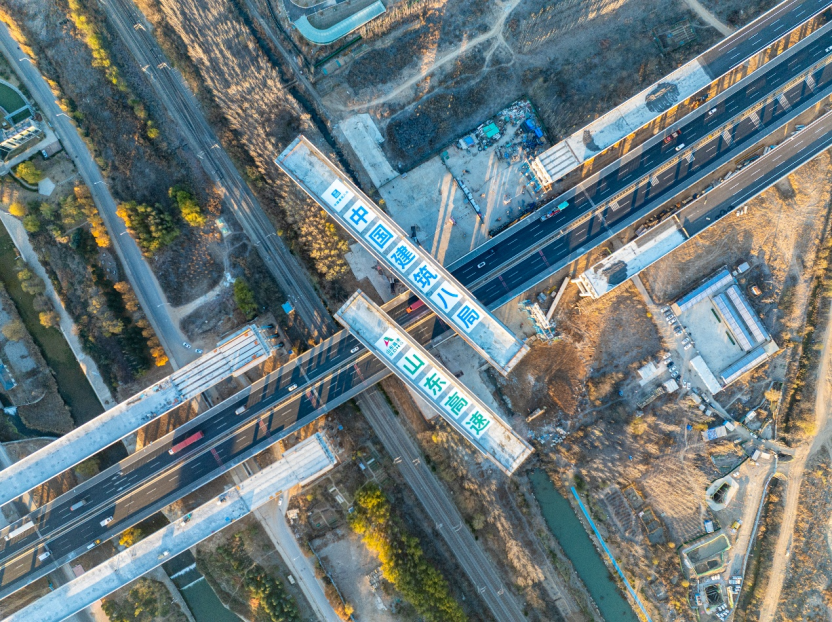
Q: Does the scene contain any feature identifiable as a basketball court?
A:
No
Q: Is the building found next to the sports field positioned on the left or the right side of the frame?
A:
left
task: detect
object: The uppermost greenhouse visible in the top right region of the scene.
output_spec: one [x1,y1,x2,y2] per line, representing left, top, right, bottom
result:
[647,18,696,60]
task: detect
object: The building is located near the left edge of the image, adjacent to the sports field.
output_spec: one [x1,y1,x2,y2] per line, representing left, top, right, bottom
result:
[0,110,41,151]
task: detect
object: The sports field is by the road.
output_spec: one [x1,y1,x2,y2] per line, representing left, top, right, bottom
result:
[0,77,39,124]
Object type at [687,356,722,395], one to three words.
building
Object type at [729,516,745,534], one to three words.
vehicle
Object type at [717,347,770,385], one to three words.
building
